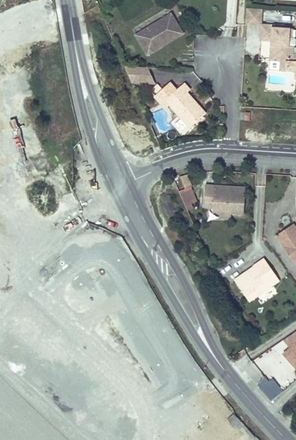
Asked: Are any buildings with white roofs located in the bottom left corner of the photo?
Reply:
No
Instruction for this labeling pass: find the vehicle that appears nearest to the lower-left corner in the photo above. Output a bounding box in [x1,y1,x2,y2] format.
[66,217,88,232]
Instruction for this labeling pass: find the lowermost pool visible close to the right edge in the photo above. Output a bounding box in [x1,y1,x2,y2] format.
[266,72,296,93]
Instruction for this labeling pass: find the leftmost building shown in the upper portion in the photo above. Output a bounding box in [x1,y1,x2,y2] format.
[125,67,156,84]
